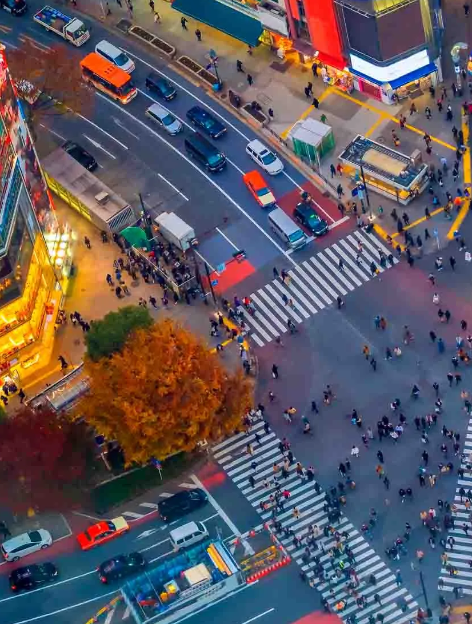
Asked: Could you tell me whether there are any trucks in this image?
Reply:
Yes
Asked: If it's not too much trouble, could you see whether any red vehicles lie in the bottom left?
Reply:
Yes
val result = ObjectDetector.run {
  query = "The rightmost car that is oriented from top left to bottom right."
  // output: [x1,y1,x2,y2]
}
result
[293,200,330,237]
